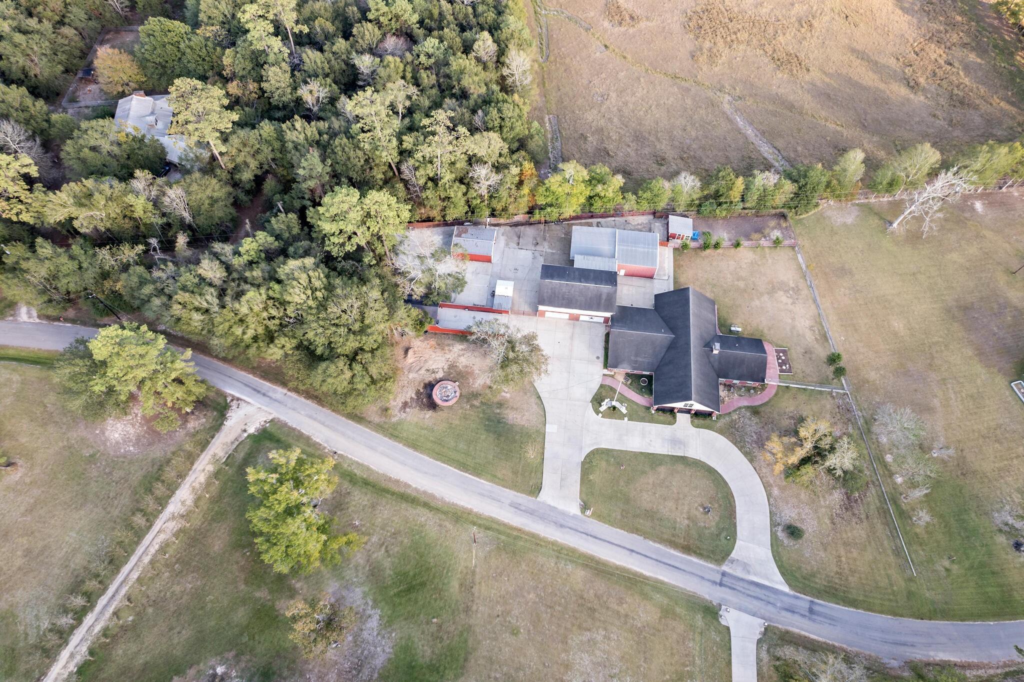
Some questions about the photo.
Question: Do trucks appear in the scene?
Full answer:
No, there's no truck here.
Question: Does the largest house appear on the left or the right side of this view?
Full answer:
The largest house is on the right side of the image.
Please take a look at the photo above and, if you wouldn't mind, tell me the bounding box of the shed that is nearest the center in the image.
[493,280,514,311]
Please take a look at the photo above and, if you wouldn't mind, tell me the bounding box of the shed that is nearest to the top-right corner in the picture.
[667,215,693,245]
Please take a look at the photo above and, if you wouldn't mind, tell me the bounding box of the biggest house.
[608,287,769,416]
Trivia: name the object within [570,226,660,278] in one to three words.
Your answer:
building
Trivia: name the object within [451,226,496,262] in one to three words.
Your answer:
shed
